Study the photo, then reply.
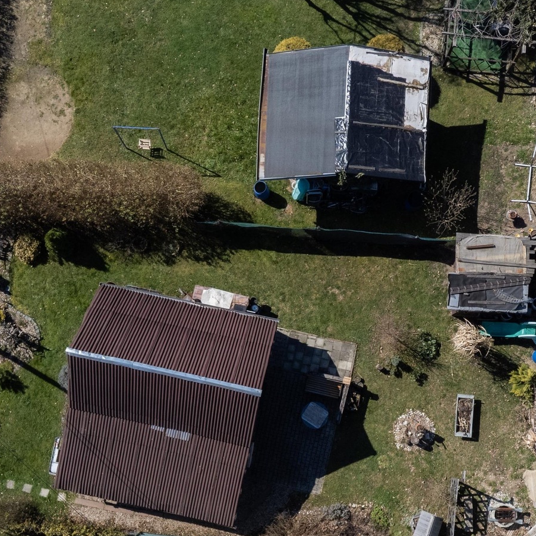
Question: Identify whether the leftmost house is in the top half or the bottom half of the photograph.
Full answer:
The leftmost house sits in the bottom half of the picture.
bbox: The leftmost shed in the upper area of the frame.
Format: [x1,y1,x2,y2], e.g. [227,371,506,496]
[253,39,433,194]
